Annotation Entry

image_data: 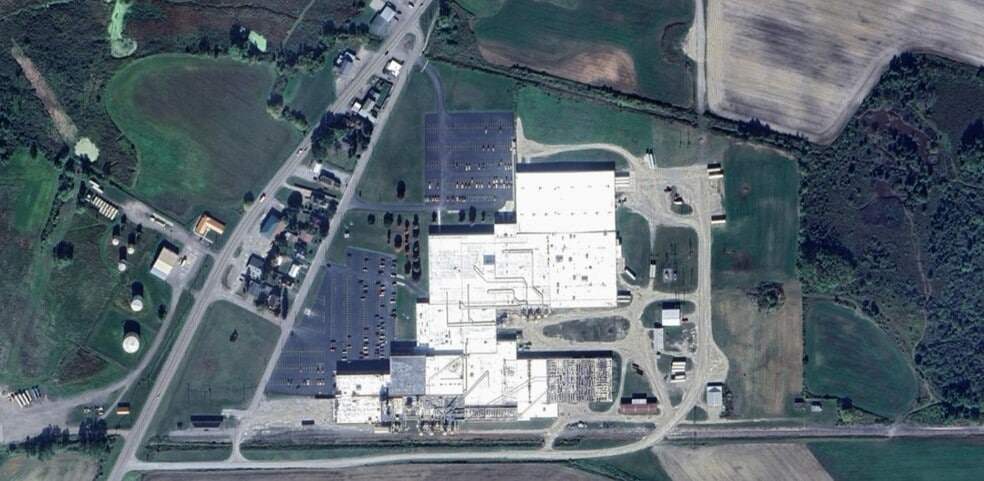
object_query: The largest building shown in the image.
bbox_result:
[336,169,621,422]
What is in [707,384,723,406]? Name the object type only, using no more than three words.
barn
